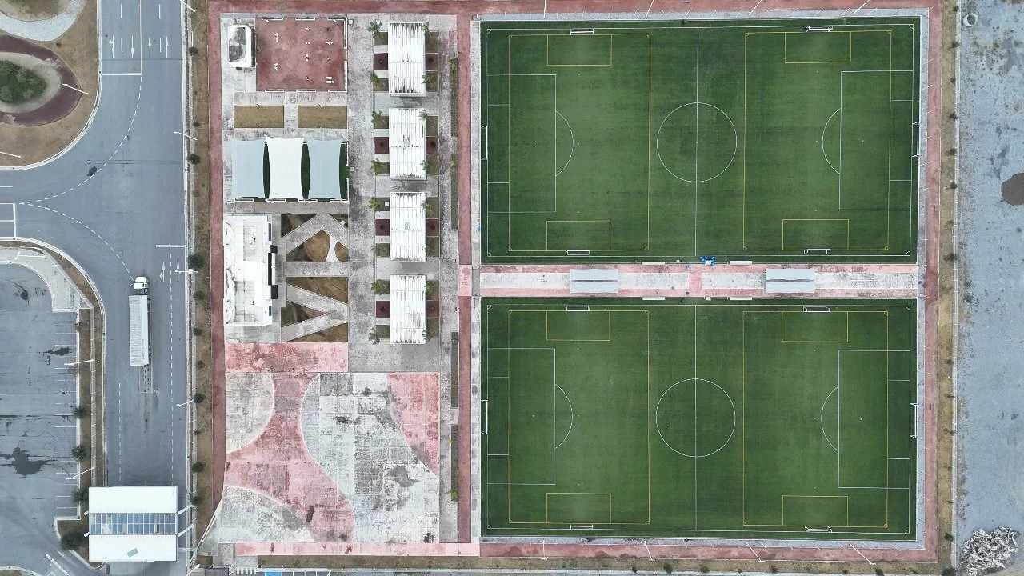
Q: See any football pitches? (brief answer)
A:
Yes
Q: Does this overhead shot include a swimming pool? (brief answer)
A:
No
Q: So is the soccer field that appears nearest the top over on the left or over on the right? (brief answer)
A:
right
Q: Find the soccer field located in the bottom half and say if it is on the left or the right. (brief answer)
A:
right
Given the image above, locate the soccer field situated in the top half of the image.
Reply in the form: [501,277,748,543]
[480,14,922,265]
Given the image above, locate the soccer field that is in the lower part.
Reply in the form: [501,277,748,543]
[480,297,919,541]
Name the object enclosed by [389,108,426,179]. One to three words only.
building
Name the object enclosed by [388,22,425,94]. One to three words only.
building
